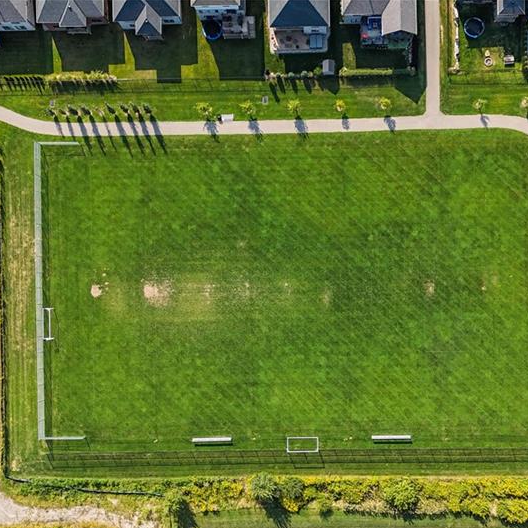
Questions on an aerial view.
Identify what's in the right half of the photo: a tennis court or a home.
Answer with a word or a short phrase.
home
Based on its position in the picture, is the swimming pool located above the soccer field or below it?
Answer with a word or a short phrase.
above it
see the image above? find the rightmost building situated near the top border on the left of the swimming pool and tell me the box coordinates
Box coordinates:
[113,0,182,41]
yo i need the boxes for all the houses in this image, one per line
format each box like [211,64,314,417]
[36,0,109,35]
[455,0,526,23]
[270,0,328,53]
[191,0,247,41]
[342,0,418,47]
[0,0,34,48]
[113,0,182,41]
